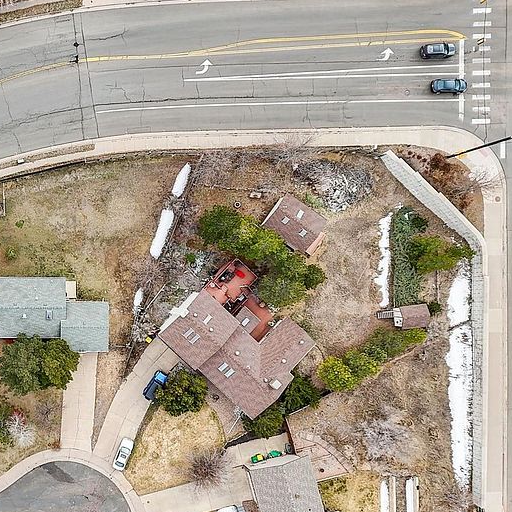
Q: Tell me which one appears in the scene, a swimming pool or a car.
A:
car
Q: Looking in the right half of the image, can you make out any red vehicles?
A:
No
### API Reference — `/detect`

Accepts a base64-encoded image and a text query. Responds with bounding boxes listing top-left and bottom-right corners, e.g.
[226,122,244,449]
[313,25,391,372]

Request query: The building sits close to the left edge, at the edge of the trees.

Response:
[0,277,111,354]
